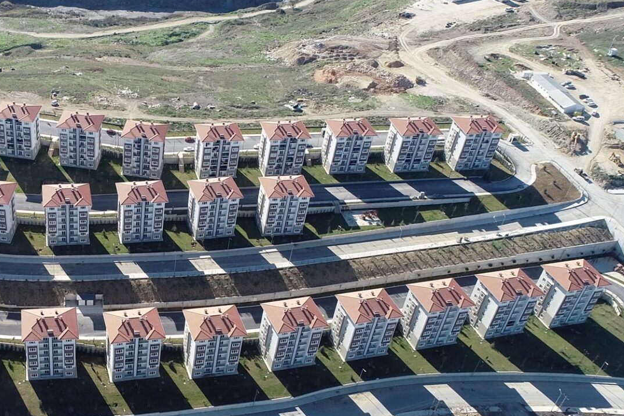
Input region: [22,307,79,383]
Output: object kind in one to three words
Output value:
building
